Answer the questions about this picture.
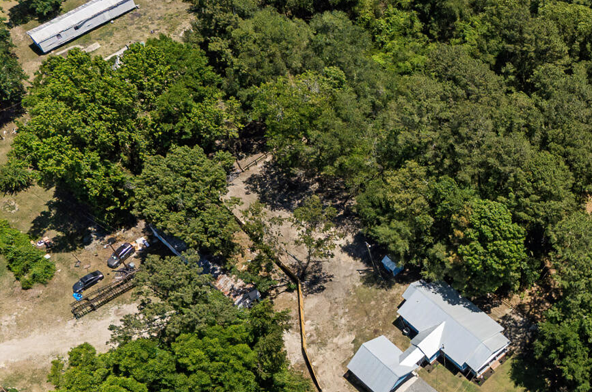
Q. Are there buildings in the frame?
Yes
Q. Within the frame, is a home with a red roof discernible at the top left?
No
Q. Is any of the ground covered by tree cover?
Yes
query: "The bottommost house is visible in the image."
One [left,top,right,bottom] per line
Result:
[346,277,511,392]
